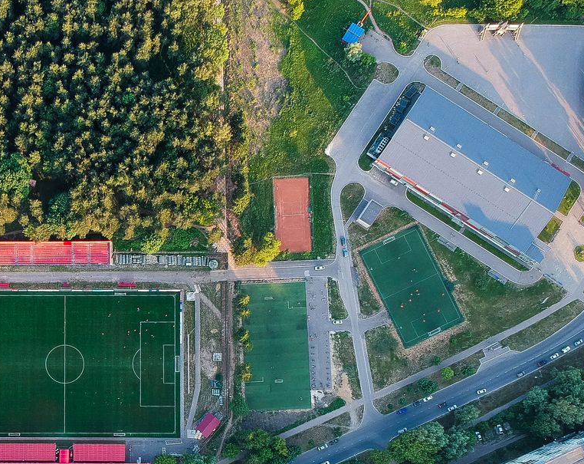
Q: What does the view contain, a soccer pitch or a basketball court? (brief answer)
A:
soccer pitch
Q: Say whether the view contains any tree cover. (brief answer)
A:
Yes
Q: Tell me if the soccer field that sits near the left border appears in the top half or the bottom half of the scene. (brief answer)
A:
bottom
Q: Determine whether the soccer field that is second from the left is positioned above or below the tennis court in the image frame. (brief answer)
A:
below it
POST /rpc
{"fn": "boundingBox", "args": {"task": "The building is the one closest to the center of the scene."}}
[354,199,383,230]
